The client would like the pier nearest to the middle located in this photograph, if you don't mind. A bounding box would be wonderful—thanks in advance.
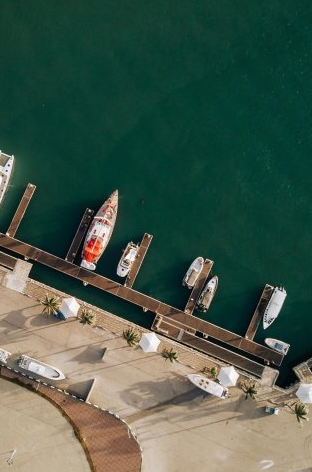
[123,233,153,289]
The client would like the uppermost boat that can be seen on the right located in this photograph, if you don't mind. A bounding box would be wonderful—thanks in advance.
[186,258,203,287]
